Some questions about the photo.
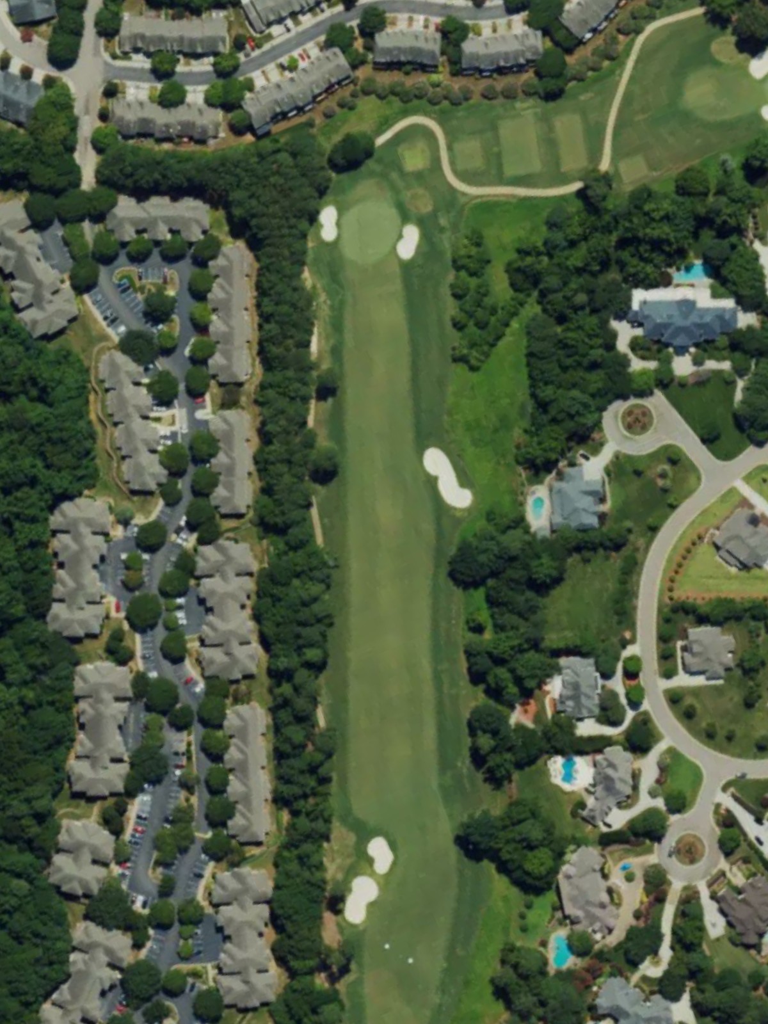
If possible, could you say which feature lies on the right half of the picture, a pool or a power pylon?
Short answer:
pool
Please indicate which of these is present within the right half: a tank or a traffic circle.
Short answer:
traffic circle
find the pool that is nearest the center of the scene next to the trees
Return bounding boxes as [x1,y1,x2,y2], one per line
[526,484,551,530]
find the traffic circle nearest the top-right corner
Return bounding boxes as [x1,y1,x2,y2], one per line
[602,388,668,453]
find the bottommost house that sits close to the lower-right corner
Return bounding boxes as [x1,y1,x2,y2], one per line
[592,973,677,1024]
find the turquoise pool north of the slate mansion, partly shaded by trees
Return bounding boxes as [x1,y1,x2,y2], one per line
[670,260,716,291]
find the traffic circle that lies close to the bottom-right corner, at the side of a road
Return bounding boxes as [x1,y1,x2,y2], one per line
[660,818,721,879]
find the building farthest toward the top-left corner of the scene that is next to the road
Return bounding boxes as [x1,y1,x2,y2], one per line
[7,0,58,29]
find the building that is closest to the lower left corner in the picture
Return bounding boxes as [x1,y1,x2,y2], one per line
[41,916,131,1024]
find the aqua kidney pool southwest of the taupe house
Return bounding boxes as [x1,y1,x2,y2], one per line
[549,929,577,974]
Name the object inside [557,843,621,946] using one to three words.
house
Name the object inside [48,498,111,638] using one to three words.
building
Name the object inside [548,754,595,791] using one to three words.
swimming pool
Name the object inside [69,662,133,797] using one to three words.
building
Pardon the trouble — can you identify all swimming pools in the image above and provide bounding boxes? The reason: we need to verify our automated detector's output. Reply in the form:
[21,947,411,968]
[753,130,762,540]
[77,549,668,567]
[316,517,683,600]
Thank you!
[618,861,633,873]
[548,754,595,791]
[526,484,551,530]
[670,260,716,291]
[549,929,577,974]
